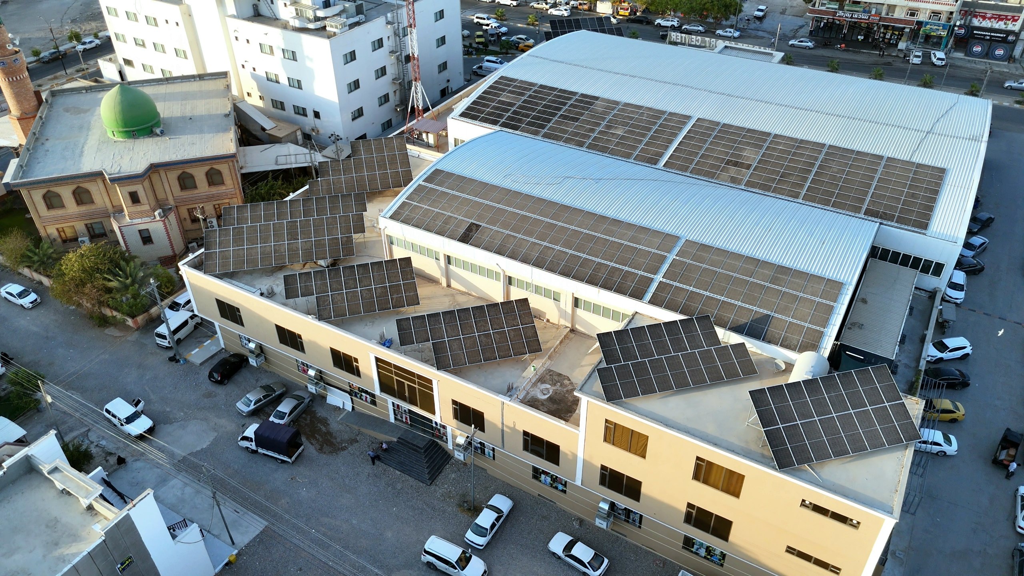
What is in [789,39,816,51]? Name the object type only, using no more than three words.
vehicle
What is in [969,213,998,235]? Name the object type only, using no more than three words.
car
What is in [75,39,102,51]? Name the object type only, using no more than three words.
vehicle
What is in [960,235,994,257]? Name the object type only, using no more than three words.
car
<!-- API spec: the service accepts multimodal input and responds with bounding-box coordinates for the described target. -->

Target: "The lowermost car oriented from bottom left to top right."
[462,494,516,547]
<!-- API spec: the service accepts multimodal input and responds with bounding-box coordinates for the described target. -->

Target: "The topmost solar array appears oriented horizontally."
[544,16,624,39]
